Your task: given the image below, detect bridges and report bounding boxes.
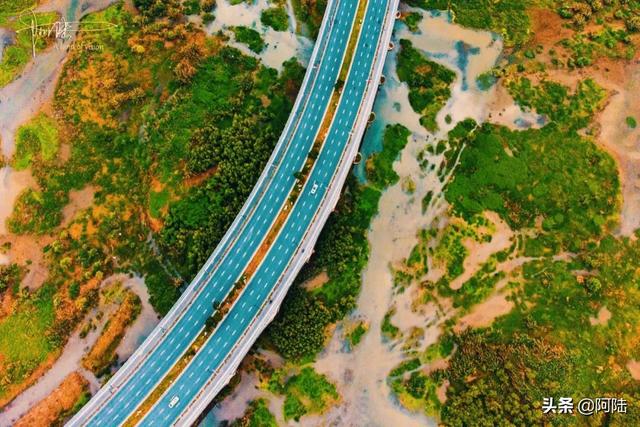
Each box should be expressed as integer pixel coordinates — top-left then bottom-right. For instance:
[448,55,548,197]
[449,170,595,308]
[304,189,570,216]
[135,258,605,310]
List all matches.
[64,0,399,427]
